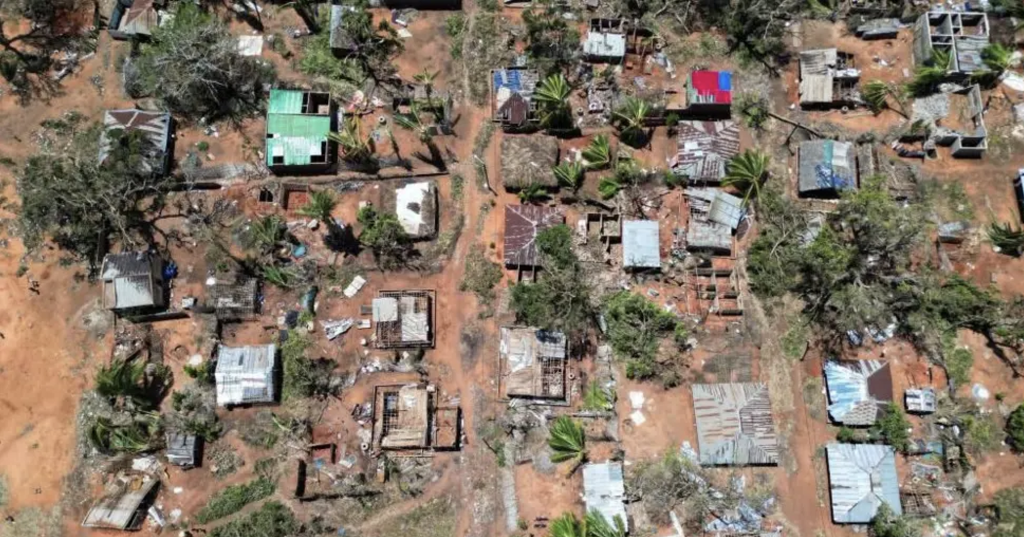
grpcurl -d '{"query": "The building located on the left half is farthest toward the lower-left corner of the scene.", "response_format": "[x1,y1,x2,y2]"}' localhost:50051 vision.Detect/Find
[84,477,160,527]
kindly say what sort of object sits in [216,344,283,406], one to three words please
house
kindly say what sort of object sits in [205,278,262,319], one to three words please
building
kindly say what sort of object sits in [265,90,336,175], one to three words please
house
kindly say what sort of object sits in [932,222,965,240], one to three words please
shed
